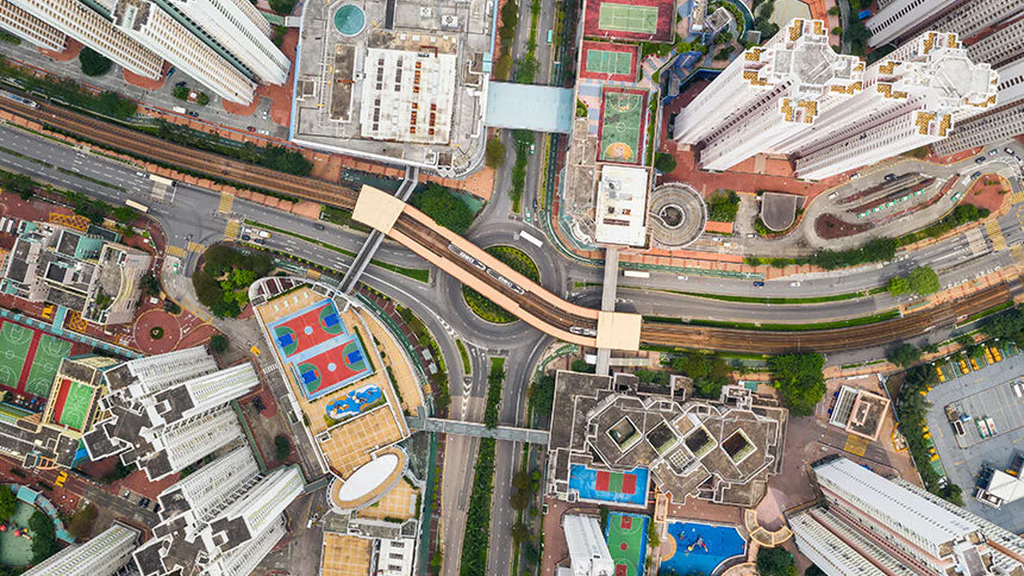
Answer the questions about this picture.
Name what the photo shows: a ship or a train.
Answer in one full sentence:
Of the two, only a train appears.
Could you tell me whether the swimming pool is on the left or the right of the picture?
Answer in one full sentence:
The swimming pool sits on the right side.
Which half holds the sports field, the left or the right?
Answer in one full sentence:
The sports field appears in the left half of the scene.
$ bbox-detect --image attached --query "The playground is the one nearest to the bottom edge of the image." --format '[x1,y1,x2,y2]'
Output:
[0,499,36,568]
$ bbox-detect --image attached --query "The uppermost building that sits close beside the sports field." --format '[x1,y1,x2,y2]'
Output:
[0,221,163,324]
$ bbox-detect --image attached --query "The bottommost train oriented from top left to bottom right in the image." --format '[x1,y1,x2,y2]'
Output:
[486,268,526,295]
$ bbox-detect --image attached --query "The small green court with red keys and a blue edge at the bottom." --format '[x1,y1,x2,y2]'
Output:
[607,512,650,576]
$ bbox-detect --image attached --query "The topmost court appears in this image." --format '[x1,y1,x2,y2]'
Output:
[584,0,677,42]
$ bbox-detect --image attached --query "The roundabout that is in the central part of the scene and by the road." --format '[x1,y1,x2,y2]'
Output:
[432,218,571,353]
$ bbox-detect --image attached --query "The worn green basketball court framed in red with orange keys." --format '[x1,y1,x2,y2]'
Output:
[597,86,650,165]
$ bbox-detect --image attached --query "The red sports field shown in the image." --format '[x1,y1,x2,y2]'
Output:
[0,318,75,401]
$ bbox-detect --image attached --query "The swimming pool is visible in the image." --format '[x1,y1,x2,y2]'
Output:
[654,520,750,576]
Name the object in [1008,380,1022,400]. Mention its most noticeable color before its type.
white vehicle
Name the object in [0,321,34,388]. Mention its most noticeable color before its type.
green basketball court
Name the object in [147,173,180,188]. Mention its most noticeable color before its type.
white vehicle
